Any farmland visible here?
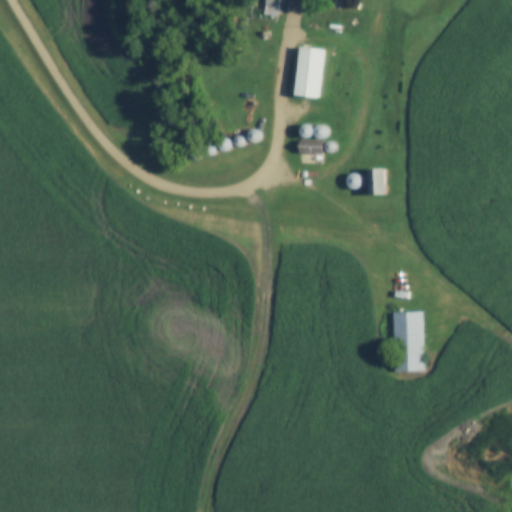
Yes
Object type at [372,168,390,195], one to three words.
shed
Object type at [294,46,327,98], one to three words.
shed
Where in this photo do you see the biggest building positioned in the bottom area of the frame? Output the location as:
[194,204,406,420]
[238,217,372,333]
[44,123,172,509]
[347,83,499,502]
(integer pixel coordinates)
[392,311,427,372]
